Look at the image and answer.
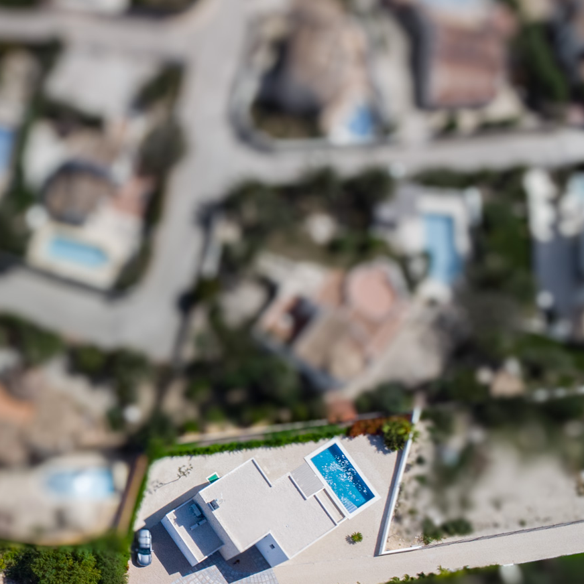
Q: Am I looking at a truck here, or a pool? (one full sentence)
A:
Looking from above, you can make out a pool.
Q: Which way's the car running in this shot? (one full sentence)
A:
In this picture, the car is oriented up and down.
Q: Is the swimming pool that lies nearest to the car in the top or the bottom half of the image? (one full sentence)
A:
Seen from above, the swimming pool that lies nearest to the car lies in the bottom half of the view.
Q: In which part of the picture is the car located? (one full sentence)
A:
The car is located in the bottom left region of the scene.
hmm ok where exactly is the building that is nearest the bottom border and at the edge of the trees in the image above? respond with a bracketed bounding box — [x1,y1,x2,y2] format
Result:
[162,459,337,567]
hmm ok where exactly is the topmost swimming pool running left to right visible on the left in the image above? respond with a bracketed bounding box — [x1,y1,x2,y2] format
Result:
[47,233,110,270]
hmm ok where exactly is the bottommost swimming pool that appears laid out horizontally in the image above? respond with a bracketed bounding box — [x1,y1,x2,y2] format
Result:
[40,463,123,501]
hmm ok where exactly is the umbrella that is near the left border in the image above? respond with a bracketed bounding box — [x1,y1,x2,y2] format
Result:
[26,208,49,229]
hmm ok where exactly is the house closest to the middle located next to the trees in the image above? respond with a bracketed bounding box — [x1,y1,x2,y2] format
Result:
[266,267,402,386]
